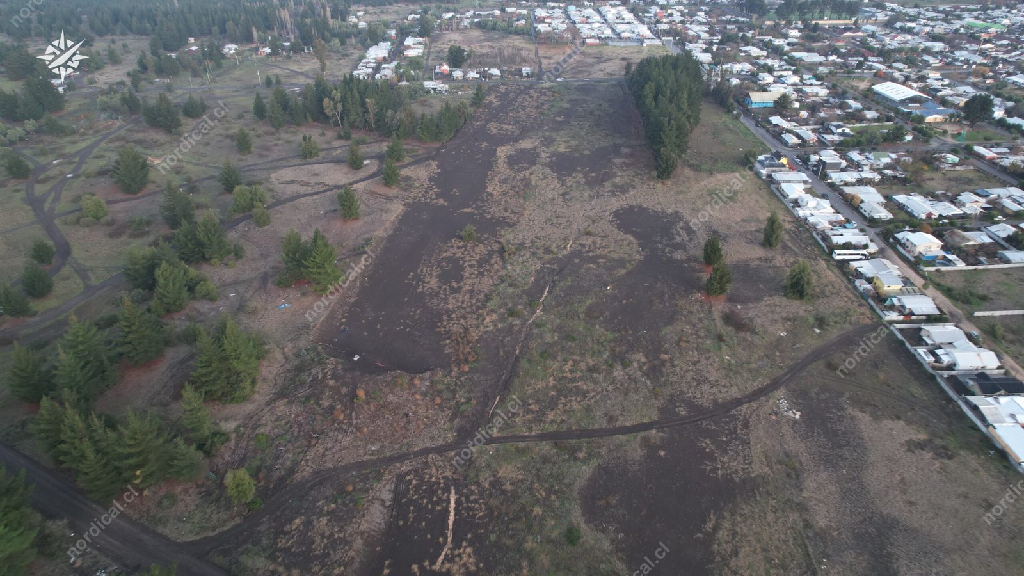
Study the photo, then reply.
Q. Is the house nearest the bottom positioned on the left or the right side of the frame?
right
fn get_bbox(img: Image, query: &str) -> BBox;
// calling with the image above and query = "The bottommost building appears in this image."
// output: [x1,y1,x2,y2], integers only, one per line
[982,422,1024,471]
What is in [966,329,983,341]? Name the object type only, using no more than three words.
vehicle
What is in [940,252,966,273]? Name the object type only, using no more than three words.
shed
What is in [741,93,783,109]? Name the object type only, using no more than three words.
building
